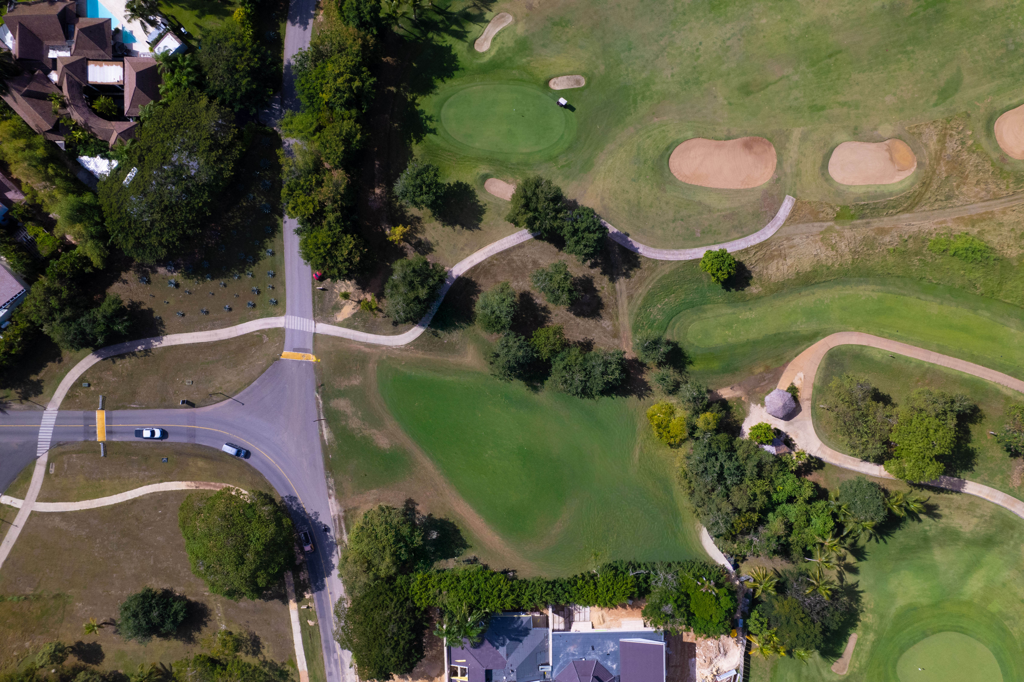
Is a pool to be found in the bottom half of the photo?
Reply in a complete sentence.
No, no pool appears in the bottom half of the photo.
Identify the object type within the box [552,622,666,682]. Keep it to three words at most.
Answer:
house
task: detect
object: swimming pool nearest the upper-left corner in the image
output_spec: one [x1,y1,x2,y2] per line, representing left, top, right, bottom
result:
[86,0,121,26]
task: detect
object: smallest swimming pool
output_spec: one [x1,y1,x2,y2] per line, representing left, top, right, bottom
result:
[121,23,139,44]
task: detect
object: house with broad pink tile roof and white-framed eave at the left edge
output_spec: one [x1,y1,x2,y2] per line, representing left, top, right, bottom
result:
[0,264,31,320]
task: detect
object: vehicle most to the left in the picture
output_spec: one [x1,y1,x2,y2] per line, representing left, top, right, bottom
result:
[134,428,164,440]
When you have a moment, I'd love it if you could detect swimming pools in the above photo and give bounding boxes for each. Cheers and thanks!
[121,23,139,44]
[86,0,121,26]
